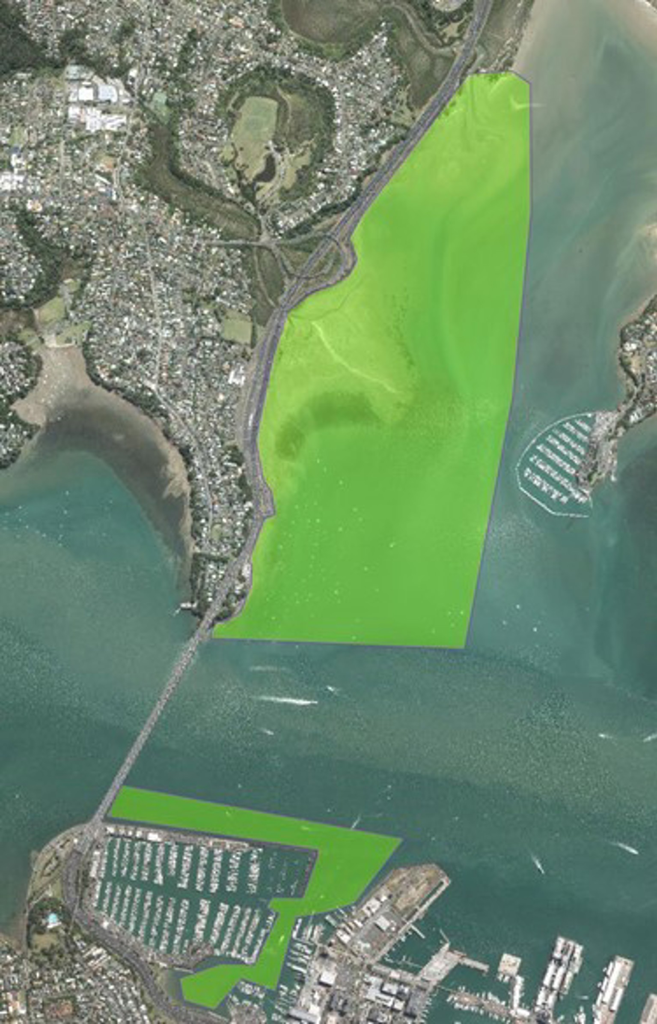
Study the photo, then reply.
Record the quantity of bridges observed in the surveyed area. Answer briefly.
1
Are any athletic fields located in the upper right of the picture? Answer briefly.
No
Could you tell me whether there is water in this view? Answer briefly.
Yes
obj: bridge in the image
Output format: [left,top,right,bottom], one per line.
[91,616,212,824]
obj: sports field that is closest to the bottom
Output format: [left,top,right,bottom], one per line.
[224,310,252,343]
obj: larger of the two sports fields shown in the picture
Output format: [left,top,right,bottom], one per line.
[232,96,278,176]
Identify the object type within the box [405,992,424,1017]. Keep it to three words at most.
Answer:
building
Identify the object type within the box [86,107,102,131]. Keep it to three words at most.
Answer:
building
